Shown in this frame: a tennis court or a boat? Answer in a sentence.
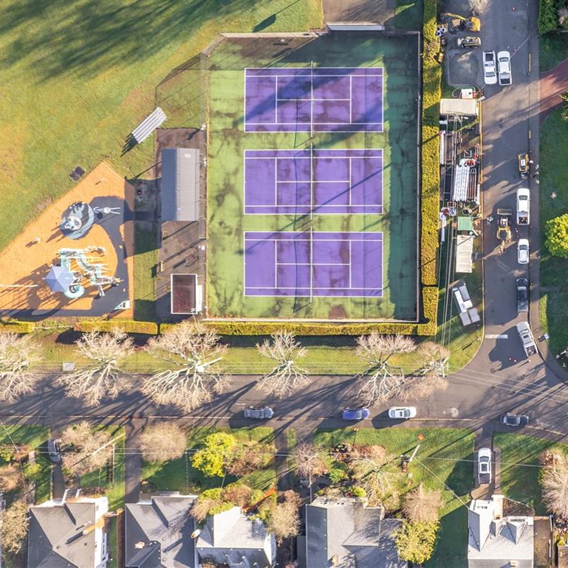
Visible in the photo is a tennis court.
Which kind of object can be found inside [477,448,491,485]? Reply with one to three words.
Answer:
vehicle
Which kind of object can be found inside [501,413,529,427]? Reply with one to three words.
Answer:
vehicle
